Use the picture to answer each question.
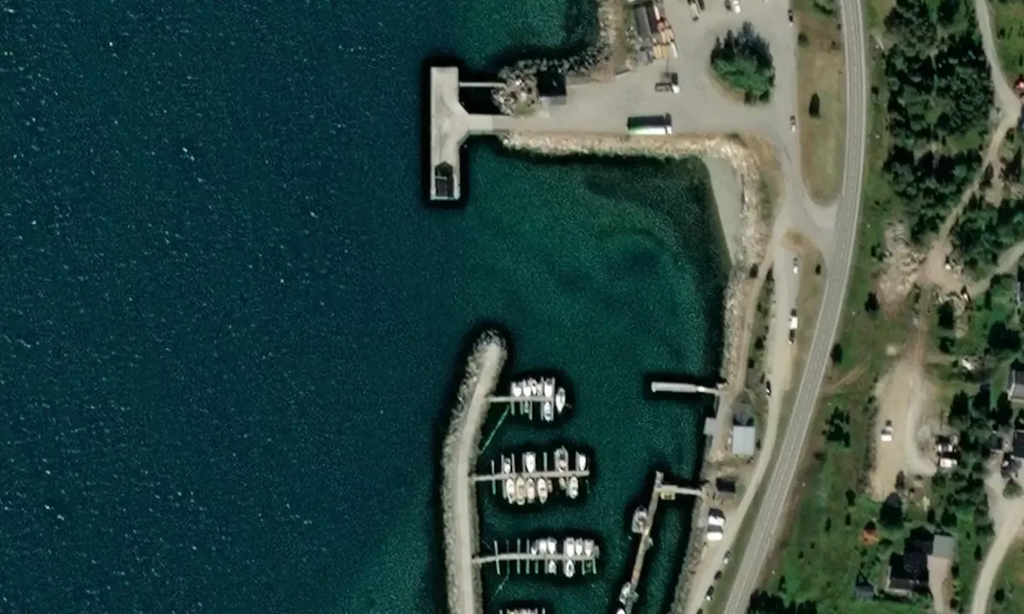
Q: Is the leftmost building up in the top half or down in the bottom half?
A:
top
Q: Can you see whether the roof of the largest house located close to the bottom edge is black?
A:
Yes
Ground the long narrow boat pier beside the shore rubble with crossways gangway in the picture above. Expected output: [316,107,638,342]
[625,471,703,614]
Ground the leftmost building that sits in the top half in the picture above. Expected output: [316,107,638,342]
[537,78,566,105]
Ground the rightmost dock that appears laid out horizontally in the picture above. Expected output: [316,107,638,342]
[651,381,719,394]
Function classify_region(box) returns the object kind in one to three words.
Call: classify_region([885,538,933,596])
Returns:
house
